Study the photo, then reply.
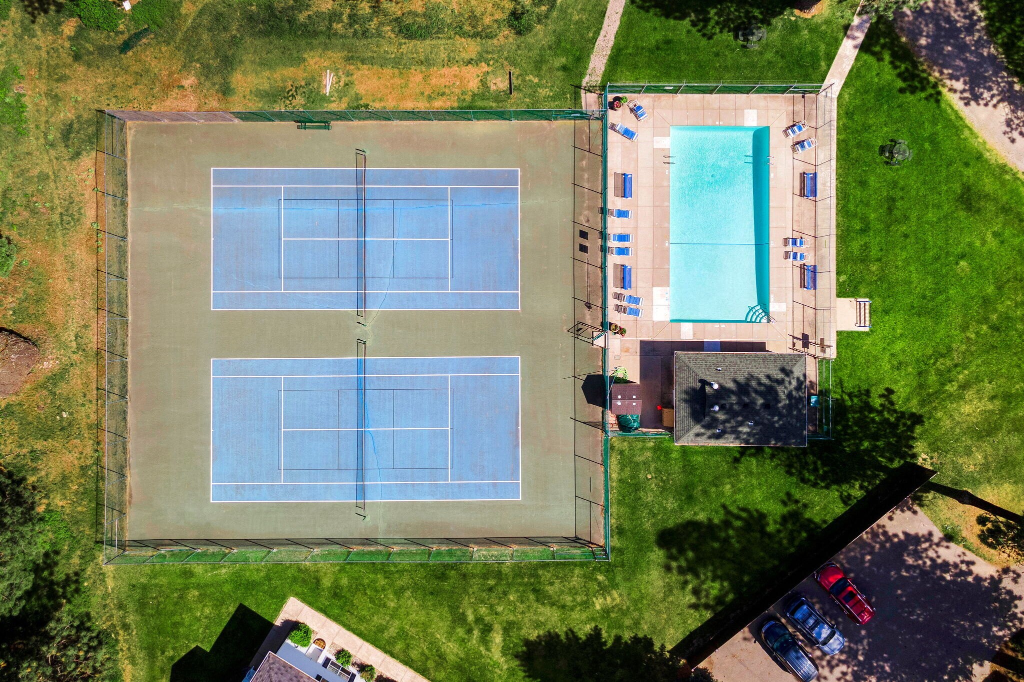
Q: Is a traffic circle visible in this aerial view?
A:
No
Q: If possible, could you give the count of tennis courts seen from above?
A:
2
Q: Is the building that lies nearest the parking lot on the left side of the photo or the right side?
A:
right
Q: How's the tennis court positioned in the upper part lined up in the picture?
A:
from left to right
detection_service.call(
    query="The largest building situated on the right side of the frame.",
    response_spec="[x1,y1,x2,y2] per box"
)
[673,351,808,447]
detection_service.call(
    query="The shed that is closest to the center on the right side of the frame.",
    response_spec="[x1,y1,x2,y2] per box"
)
[610,383,645,414]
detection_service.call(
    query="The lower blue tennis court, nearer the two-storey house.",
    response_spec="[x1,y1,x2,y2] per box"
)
[211,344,521,535]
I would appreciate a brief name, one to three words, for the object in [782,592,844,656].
car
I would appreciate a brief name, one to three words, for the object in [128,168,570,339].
tennis court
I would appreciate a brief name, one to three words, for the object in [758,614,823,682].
car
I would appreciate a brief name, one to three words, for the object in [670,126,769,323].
swimming pool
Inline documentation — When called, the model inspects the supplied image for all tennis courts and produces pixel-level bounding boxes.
[128,168,570,339]
[211,344,521,535]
